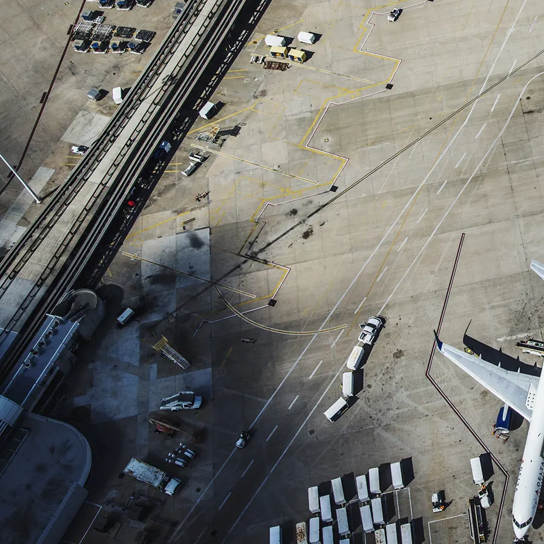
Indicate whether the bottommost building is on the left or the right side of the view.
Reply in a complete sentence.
The bottommost building is on the left side of the image.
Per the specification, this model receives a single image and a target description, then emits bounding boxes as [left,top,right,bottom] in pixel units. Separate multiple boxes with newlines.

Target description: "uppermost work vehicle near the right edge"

[513,338,544,359]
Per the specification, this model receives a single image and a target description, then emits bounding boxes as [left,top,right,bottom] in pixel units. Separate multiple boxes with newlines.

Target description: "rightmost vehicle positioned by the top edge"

[388,10,402,22]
